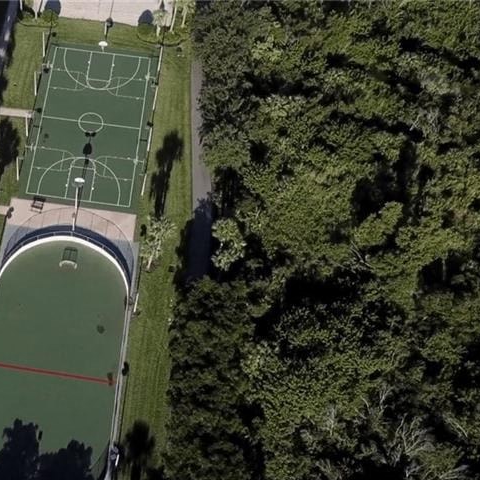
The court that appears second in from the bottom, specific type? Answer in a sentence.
The court that appears second in from the bottom can be classified as a basketball court.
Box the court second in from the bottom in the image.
[18,42,160,212]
